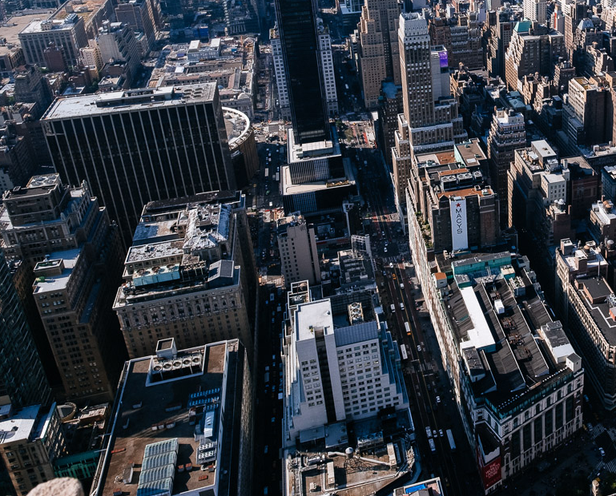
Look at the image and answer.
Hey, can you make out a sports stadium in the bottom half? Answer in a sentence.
No, I can find no sports stadium in the bottom half.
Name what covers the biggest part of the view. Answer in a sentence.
For the most part, this view shows buildings.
